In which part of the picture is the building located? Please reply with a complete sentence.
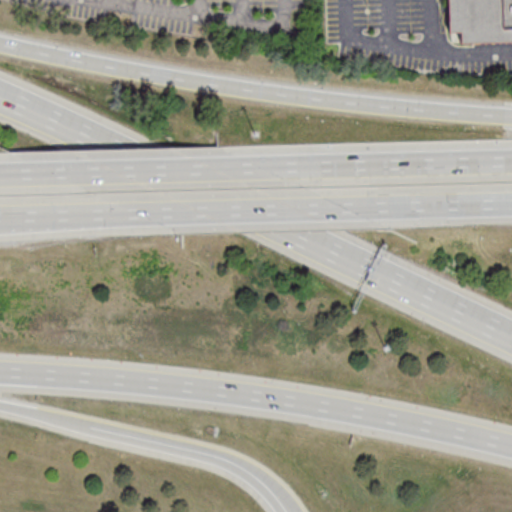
The building sits in the top right section of the image.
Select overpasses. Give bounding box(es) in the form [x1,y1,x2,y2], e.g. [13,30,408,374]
[8,131,392,250]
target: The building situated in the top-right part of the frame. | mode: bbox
[449,0,512,45]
